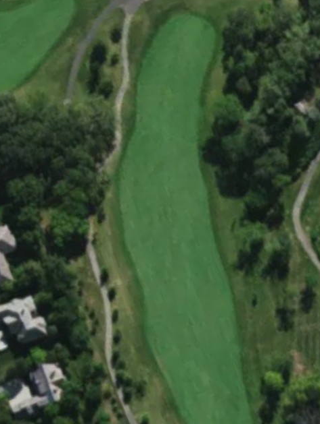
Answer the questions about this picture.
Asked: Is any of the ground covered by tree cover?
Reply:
Yes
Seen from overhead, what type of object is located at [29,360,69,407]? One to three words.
house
